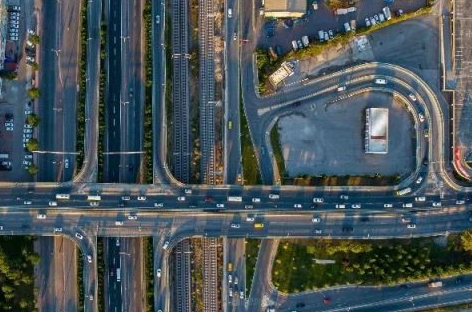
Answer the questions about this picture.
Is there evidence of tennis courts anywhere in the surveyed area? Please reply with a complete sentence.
No, the scene contains no tennis court.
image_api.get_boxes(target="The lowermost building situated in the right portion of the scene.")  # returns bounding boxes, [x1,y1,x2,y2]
[362,108,388,154]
